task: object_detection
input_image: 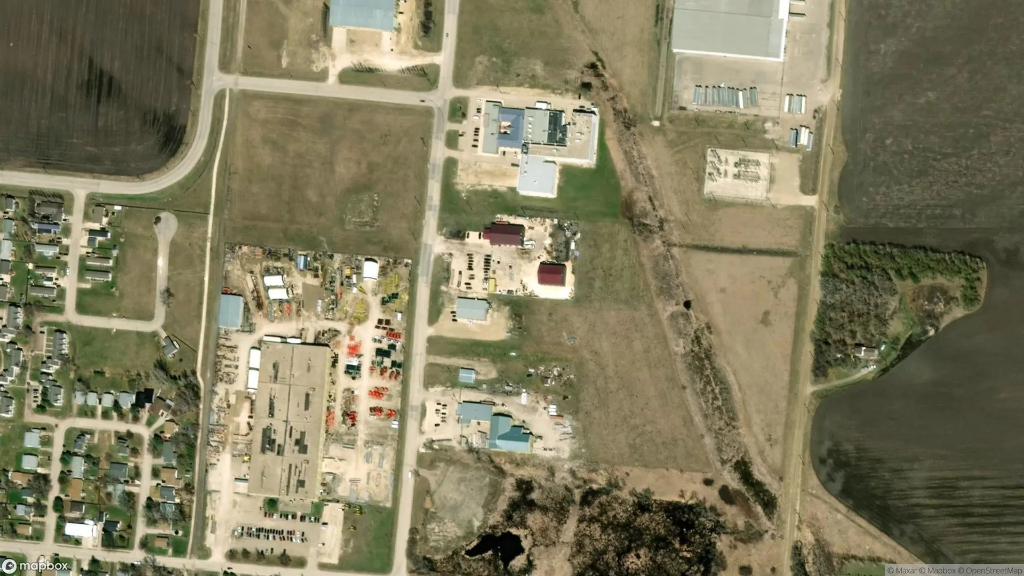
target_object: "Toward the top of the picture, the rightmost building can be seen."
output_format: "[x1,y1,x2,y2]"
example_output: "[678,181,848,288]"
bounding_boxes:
[672,0,793,61]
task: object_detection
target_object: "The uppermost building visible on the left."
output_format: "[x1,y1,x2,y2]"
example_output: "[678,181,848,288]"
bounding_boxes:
[330,0,398,33]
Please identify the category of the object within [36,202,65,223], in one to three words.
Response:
house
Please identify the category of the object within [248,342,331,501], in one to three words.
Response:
building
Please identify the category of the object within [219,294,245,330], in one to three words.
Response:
shed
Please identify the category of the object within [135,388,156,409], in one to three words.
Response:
shed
